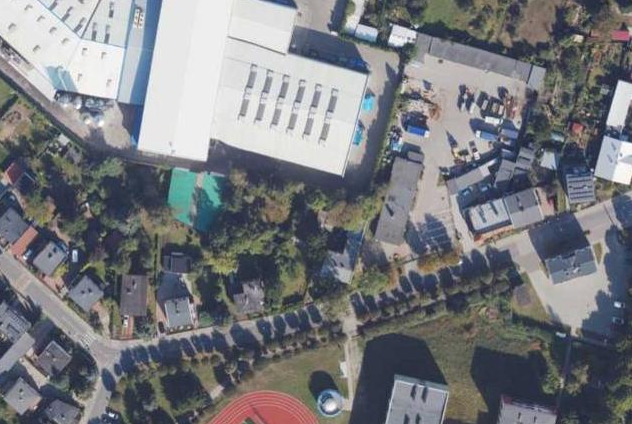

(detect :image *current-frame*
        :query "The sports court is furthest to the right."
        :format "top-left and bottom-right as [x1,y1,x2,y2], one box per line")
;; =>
[195,173,225,230]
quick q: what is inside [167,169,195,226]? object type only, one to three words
sports court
